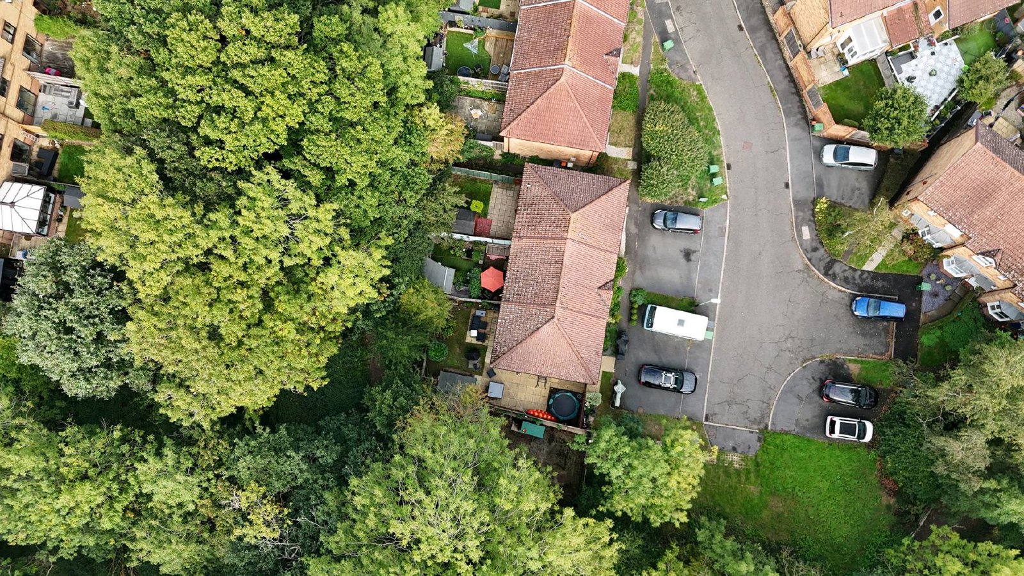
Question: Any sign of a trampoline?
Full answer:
Yes, the frame does contain a trampoline.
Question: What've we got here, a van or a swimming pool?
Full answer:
I can see a van in this picture.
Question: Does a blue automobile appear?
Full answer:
Yes, I can see a blue automobile in this picture.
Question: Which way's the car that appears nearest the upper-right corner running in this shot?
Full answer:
The car that appears nearest the upper-right corner runs from side to side in the image.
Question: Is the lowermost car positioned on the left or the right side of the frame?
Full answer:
You can find the lowermost car on the right side of the picture.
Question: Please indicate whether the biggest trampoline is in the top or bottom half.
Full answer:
Seen from above, the biggest trampoline lies in the bottom half of the view.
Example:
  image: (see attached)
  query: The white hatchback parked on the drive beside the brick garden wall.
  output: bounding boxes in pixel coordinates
[819,141,880,172]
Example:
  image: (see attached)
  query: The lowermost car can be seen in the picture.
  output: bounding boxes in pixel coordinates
[823,414,874,445]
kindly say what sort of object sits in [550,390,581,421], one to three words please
trampoline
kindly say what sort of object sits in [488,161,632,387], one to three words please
house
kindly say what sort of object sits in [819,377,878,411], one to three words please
car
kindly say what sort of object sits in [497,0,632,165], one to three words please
house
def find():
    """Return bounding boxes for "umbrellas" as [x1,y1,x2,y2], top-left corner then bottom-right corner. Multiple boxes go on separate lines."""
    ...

[482,268,503,293]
